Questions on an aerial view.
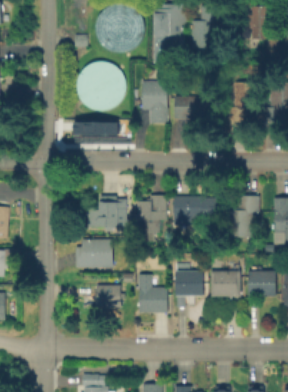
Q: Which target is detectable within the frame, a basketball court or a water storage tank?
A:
water storage tank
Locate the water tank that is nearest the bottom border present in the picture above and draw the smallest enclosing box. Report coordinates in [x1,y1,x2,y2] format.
[77,61,126,111]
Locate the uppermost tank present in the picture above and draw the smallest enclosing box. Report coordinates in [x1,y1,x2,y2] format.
[96,4,145,54]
